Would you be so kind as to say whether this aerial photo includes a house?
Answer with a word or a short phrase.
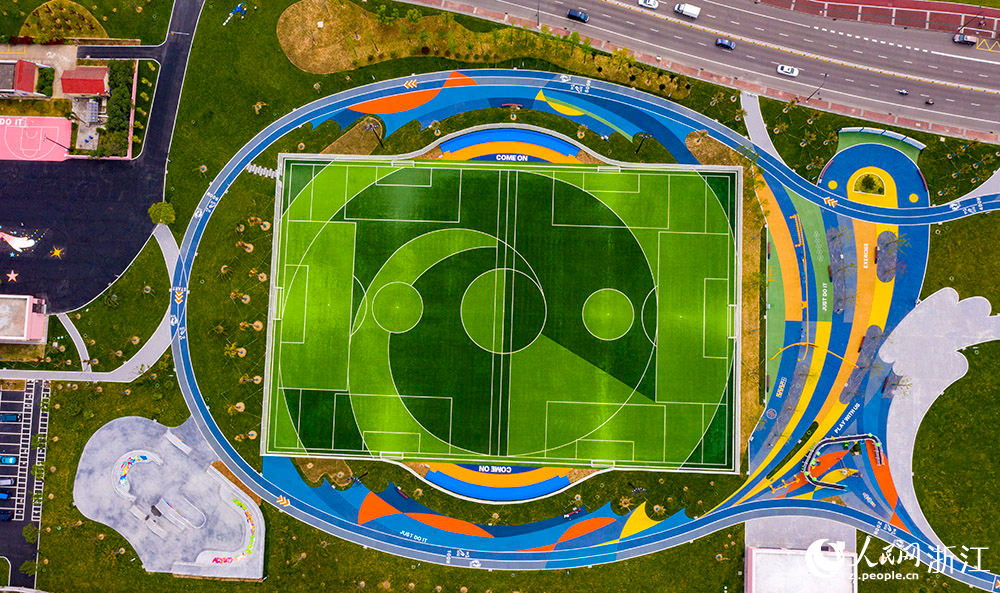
Yes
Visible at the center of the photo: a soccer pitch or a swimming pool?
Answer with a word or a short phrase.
soccer pitch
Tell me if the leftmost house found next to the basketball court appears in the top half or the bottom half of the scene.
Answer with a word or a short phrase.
top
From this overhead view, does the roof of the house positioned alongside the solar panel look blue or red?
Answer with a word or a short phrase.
red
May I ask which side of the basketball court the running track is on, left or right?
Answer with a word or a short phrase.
to the right of it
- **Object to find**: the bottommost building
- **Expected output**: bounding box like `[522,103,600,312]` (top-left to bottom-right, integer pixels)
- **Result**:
[748,547,860,593]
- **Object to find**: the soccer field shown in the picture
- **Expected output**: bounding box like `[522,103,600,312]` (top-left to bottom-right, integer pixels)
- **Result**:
[267,128,737,472]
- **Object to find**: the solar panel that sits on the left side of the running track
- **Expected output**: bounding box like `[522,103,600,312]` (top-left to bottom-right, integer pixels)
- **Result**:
[87,102,104,125]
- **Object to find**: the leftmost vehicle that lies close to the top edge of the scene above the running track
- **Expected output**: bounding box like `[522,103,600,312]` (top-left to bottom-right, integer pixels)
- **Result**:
[567,6,589,21]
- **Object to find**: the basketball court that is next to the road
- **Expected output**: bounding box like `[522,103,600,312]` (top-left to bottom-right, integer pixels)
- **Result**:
[0,115,71,161]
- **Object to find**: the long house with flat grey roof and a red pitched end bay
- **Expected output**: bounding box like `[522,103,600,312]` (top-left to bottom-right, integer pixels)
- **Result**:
[0,61,46,97]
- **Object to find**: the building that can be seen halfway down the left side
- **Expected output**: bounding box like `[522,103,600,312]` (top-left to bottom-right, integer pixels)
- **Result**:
[0,298,49,345]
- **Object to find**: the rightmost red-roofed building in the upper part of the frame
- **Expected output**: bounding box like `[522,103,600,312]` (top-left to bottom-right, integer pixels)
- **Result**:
[61,66,113,97]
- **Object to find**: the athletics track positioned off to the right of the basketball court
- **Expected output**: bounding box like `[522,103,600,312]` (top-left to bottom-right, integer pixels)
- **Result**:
[169,67,1000,593]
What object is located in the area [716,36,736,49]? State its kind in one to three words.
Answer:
vehicle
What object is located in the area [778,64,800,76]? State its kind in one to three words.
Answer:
vehicle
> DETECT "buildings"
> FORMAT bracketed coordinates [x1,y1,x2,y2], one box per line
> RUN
[748,547,860,593]
[0,61,46,97]
[0,298,49,345]
[61,66,113,97]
